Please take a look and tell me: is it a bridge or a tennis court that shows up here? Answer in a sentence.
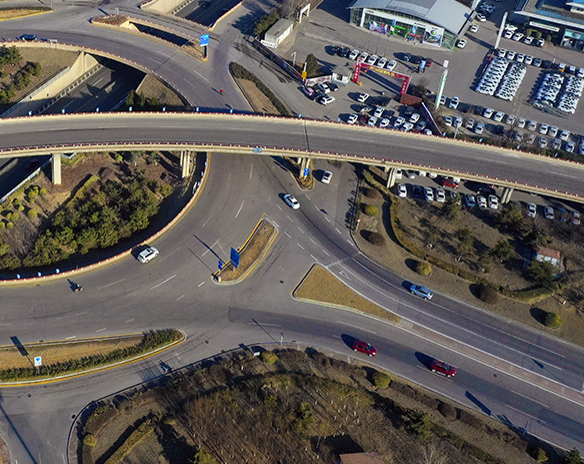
This aerial view contains a bridge.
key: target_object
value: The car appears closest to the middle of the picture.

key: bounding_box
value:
[282,194,301,210]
